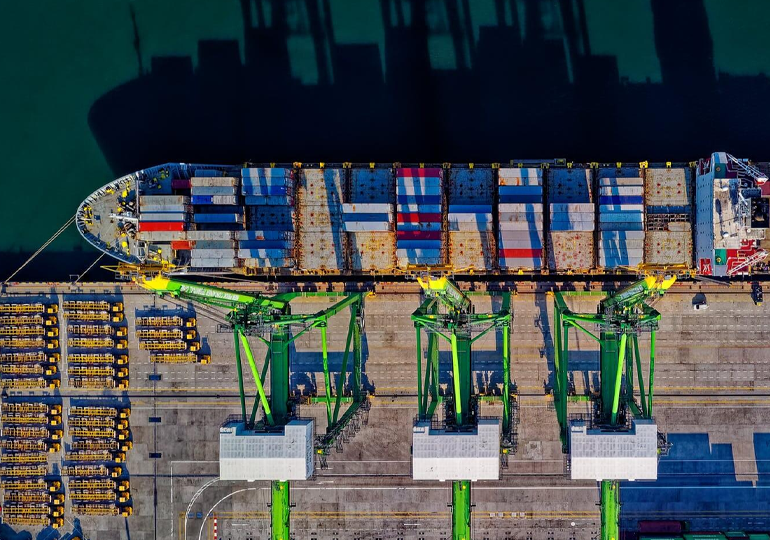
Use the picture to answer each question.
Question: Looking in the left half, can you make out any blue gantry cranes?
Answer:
No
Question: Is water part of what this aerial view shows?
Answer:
Yes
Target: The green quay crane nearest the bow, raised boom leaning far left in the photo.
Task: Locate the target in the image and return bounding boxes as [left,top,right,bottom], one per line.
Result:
[113,266,370,540]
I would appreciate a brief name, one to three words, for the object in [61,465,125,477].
vehicle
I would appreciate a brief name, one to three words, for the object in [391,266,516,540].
container crane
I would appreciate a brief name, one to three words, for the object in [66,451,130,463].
vehicle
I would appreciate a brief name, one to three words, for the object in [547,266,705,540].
container crane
